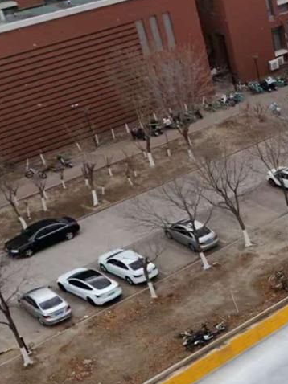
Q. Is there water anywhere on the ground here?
No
